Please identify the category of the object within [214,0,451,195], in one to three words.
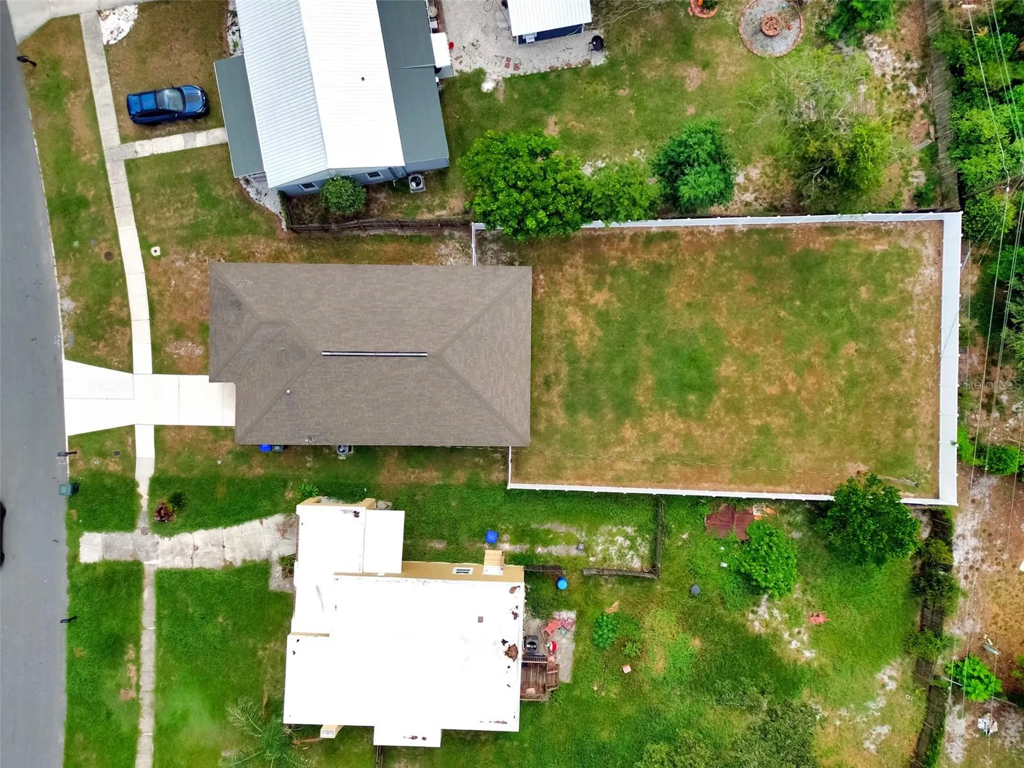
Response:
house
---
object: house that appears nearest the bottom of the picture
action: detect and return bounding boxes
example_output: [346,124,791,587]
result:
[283,504,525,748]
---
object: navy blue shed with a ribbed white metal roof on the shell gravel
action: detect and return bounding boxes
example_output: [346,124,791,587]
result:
[506,0,592,50]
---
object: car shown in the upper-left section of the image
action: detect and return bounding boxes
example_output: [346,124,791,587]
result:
[125,86,212,131]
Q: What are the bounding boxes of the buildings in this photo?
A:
[506,0,592,50]
[214,0,451,195]
[208,261,533,448]
[283,504,525,748]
